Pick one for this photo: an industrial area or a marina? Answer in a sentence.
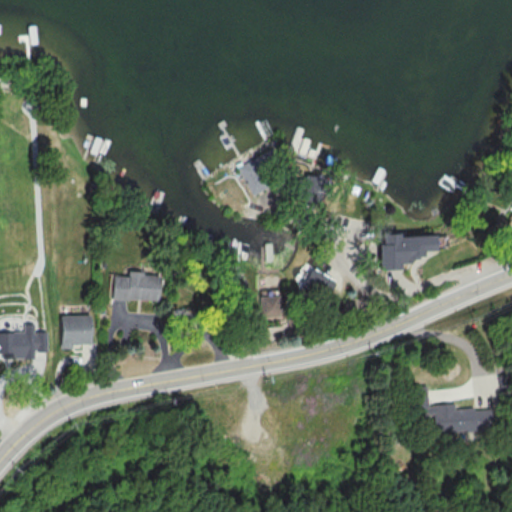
This looks like a marina.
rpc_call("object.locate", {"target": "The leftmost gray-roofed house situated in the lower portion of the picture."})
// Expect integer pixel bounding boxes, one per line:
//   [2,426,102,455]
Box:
[0,320,48,360]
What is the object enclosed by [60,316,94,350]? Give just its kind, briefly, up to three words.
house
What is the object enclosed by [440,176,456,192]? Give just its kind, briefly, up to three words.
boat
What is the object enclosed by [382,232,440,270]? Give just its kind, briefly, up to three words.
house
